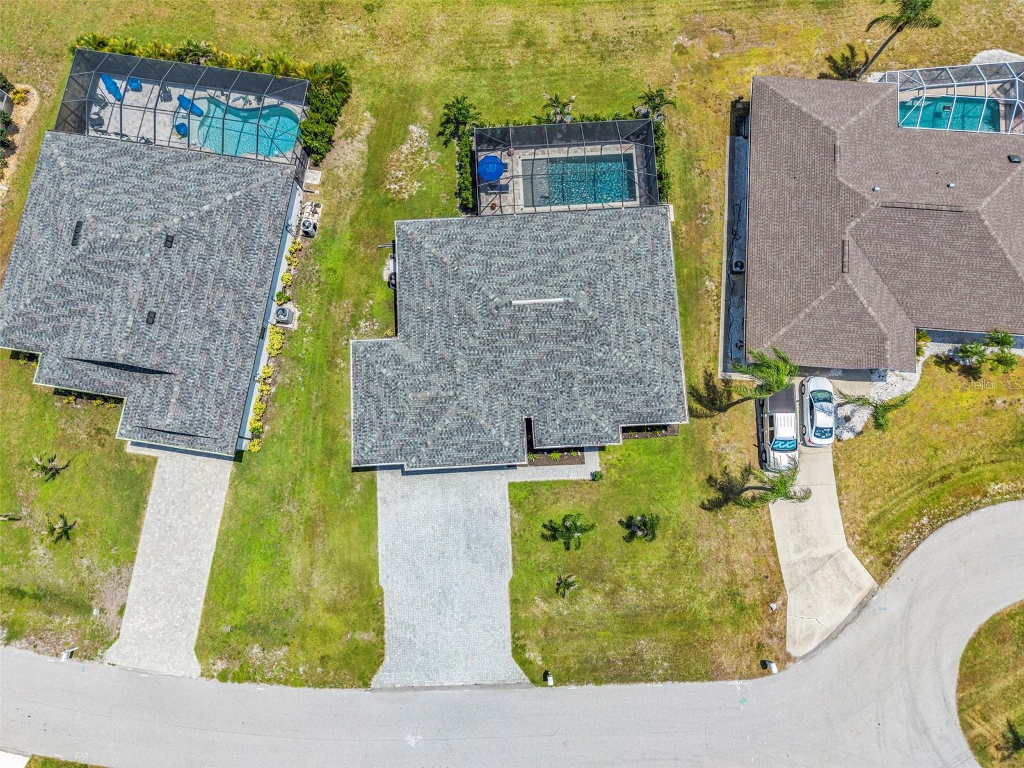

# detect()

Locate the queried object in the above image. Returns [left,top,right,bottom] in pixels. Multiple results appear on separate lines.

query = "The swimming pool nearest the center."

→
[517,148,642,211]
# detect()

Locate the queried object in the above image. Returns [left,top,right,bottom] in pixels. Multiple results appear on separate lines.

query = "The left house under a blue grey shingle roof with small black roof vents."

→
[0,131,308,457]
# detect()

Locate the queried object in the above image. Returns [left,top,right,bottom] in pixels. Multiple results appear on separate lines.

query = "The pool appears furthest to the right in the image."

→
[899,93,1003,133]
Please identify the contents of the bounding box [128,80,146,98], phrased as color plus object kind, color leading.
blue umbrella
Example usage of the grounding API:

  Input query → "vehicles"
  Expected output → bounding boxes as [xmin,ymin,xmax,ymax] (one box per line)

[799,378,835,451]
[758,381,800,475]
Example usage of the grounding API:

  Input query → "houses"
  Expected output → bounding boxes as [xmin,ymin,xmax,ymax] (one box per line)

[741,75,1024,375]
[349,204,693,472]
[0,131,308,457]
